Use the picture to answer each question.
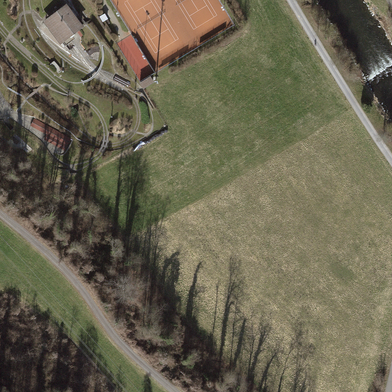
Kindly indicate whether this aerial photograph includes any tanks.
No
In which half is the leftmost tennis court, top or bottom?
top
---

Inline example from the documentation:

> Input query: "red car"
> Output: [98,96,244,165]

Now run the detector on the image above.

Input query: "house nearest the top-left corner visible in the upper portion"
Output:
[44,3,83,42]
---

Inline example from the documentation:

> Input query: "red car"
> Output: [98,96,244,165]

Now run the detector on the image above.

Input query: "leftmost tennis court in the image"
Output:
[112,0,196,71]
